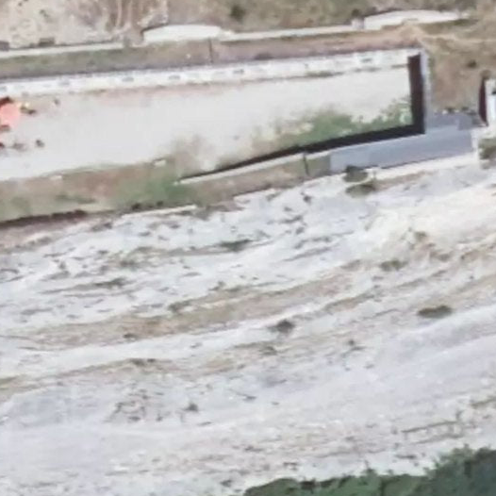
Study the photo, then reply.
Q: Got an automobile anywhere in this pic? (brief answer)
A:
No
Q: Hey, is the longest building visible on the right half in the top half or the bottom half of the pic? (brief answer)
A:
top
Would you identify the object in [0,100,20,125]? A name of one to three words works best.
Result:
umbrella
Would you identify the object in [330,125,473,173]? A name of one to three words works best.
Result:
building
